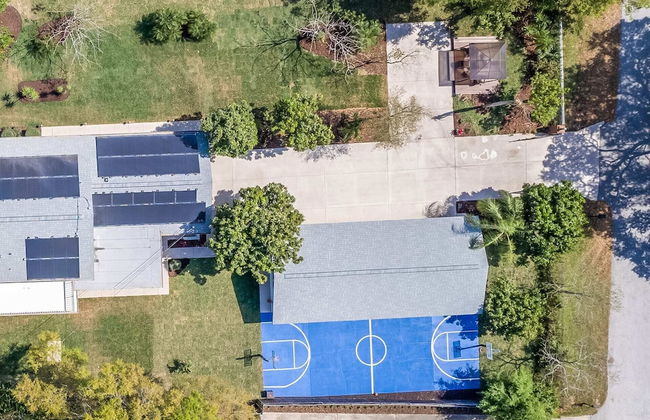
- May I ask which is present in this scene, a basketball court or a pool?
basketball court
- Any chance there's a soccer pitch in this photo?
No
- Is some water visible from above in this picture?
No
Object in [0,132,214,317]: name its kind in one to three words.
house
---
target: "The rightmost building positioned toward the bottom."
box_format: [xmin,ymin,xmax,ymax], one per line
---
[273,215,489,324]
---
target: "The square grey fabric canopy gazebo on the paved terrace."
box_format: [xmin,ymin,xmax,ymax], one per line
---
[463,43,508,86]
